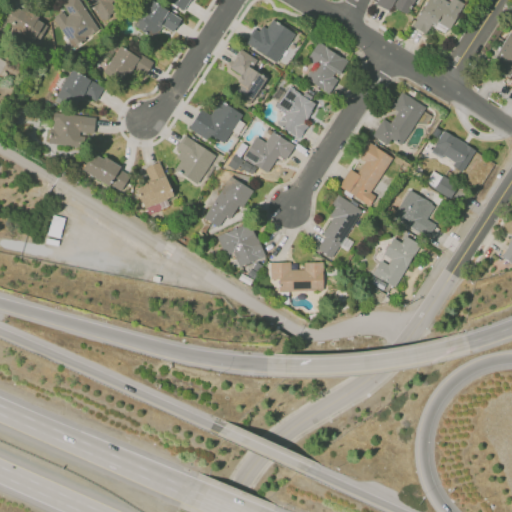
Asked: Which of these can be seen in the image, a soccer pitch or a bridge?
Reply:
bridge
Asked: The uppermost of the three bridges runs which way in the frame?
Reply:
horizontally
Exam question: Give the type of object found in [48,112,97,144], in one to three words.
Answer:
house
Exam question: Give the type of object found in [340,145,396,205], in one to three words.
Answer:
house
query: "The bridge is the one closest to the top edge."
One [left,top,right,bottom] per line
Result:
[266,330,474,378]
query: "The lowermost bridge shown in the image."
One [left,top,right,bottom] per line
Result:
[196,476,302,512]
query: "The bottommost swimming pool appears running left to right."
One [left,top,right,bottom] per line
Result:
[292,298,314,310]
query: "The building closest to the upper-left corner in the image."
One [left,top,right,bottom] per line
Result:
[5,8,48,38]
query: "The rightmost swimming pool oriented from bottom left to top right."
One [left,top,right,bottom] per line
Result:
[408,128,424,146]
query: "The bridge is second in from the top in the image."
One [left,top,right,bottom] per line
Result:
[215,422,301,470]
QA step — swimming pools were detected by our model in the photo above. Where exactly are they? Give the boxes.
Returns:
[246,121,264,142]
[292,298,314,310]
[216,138,235,154]
[408,128,424,146]
[264,104,277,123]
